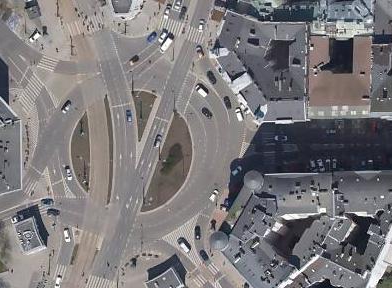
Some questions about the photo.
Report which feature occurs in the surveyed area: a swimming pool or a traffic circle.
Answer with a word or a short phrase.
traffic circle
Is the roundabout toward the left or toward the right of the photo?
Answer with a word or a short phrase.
left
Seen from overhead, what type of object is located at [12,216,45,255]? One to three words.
building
